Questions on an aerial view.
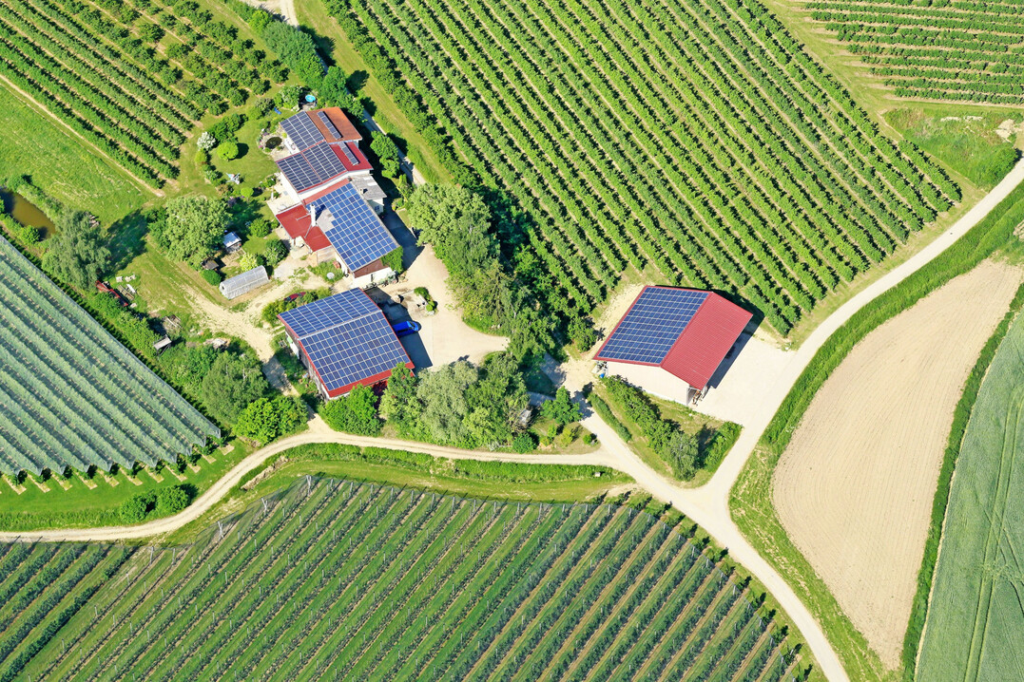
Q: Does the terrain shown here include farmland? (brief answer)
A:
Yes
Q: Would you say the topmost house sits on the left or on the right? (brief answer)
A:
left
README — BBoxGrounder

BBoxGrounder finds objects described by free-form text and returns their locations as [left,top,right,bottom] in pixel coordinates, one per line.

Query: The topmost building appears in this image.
[278,105,359,152]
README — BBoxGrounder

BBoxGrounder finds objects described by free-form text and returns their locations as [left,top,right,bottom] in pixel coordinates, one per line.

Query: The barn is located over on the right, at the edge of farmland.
[593,285,752,407]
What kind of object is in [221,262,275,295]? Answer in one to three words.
greenhouse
